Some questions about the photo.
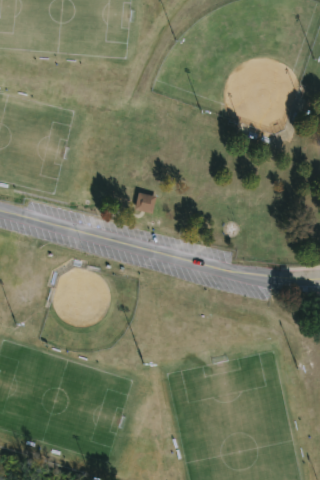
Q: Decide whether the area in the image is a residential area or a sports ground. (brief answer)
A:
sports ground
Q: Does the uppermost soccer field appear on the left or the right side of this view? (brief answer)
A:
left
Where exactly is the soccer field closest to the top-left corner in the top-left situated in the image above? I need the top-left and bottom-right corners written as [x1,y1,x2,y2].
[0,0,132,60]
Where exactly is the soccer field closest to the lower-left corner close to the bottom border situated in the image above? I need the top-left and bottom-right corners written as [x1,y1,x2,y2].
[0,339,133,464]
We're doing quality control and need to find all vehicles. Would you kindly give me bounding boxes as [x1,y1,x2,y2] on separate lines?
[151,233,157,244]
[192,259,202,264]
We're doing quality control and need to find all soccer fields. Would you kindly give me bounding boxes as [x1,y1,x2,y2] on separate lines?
[166,350,302,480]
[0,339,133,464]
[0,0,132,60]
[0,92,74,194]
